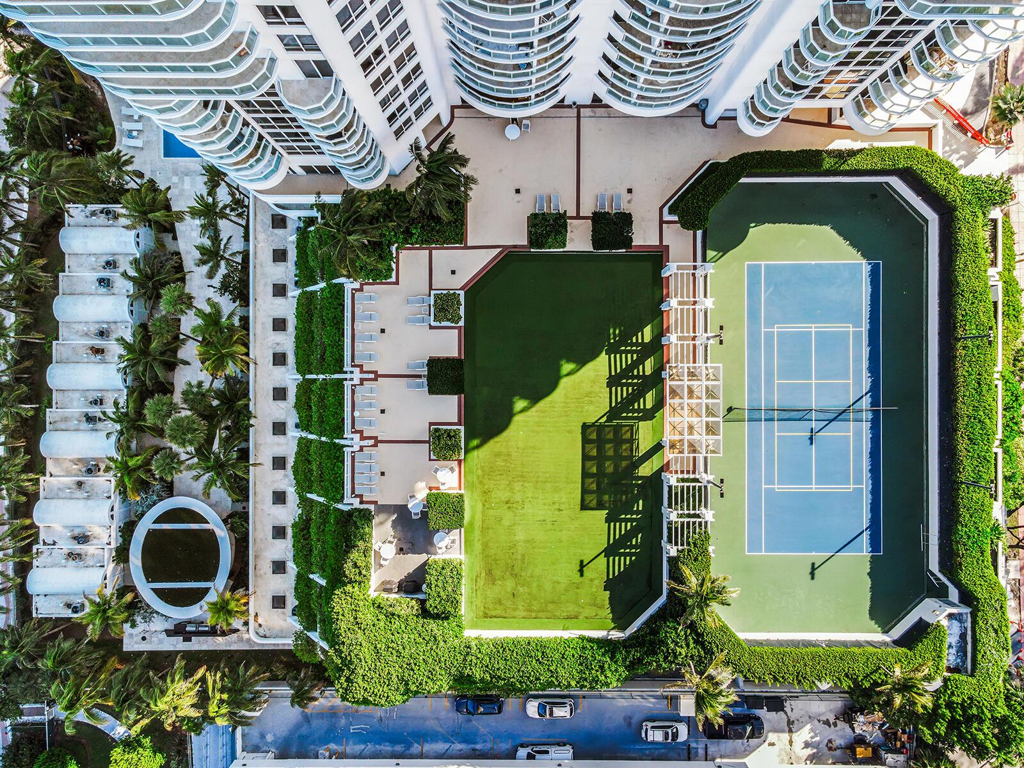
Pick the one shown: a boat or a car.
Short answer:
car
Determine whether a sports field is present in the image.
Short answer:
Yes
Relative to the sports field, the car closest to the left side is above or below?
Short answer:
below it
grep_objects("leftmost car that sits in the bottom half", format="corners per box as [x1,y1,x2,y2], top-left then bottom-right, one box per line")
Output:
[455,692,503,719]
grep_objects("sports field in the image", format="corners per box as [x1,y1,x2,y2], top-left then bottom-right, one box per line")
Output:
[465,251,662,630]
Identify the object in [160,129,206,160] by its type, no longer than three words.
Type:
swimming pool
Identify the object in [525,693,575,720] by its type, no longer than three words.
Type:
car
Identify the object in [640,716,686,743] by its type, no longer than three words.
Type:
car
